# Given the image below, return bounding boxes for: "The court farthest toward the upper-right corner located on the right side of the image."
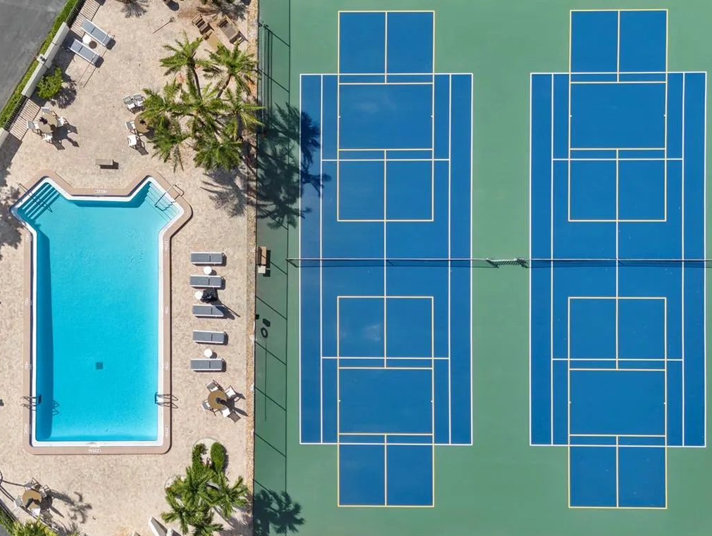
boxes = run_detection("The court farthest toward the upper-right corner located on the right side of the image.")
[569,9,667,221]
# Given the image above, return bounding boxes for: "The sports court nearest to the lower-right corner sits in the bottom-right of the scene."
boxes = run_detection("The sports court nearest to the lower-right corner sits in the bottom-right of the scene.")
[569,297,667,508]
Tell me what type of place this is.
sports ground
